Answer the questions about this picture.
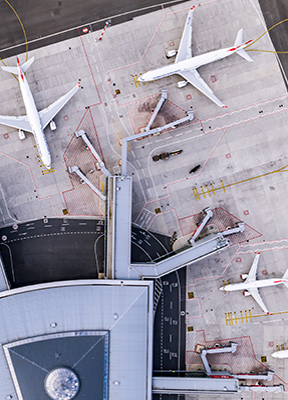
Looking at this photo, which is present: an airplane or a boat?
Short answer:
airplane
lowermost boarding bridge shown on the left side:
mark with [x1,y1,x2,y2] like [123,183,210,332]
[68,165,107,202]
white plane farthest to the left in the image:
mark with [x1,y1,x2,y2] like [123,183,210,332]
[0,55,82,168]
